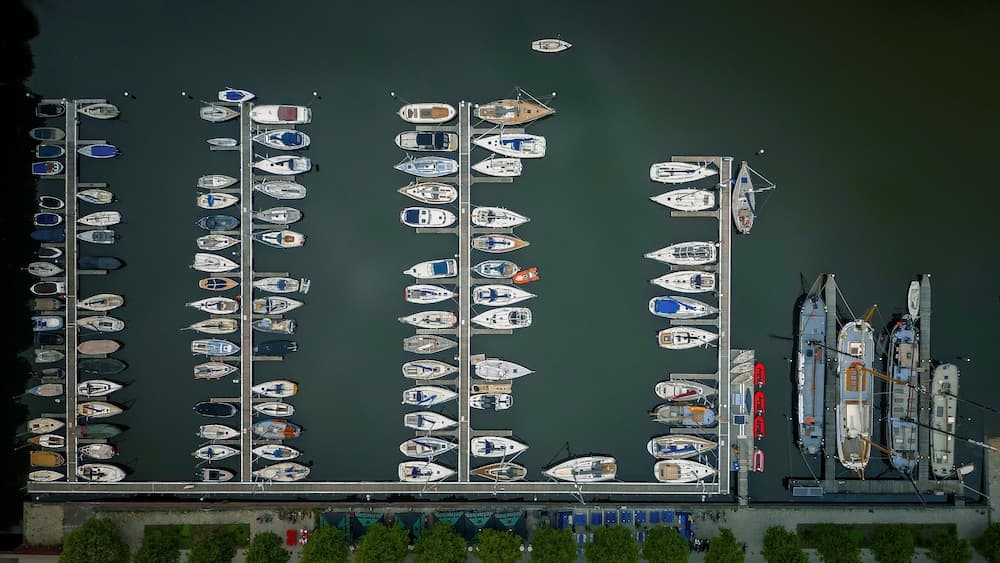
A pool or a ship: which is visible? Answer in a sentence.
The one in the frame is a ship.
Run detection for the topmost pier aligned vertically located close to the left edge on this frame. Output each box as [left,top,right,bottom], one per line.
[41,100,108,482]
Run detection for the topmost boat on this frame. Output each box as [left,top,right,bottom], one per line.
[532,37,572,54]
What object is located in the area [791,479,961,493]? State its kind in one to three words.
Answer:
pier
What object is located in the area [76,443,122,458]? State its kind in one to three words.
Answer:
boat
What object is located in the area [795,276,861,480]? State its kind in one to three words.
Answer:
ship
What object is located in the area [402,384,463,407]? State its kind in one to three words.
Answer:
boat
